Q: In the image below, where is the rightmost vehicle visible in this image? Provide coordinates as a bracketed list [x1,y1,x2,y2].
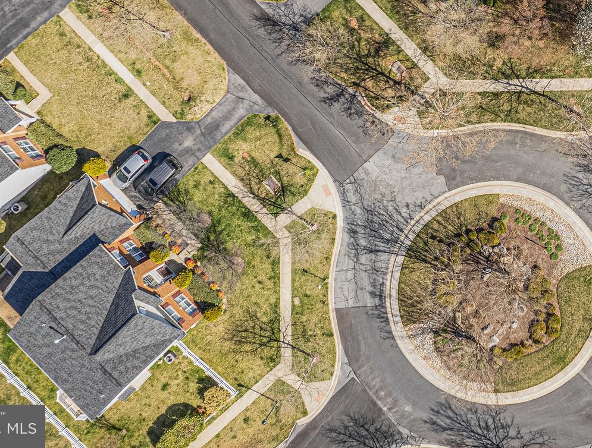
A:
[138,154,183,200]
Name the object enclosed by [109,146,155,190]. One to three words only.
car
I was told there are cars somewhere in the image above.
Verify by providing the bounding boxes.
[109,146,155,190]
[138,154,183,200]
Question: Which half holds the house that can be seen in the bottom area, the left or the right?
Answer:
left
